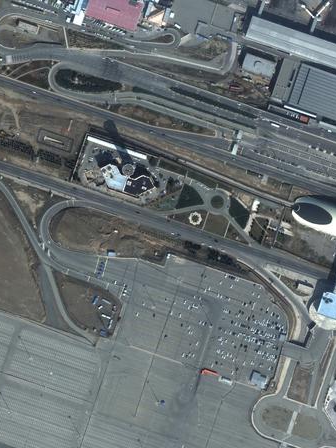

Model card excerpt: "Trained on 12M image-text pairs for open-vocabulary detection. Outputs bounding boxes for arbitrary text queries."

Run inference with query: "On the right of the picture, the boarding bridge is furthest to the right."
[301,1,331,32]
